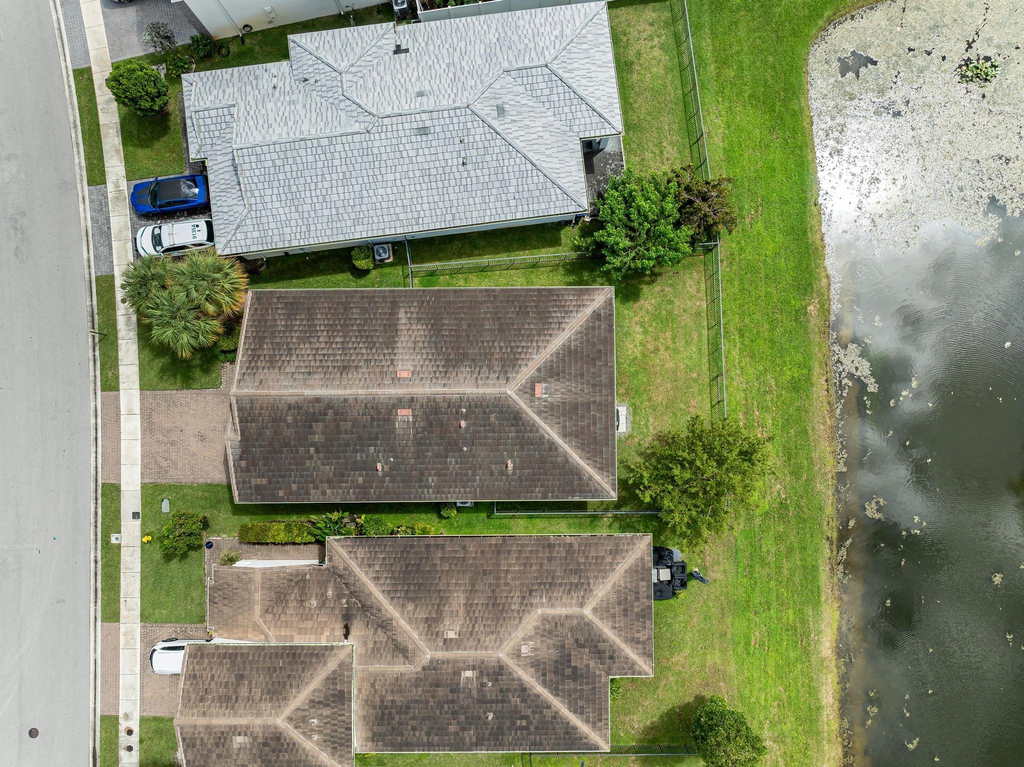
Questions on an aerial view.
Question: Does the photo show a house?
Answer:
Yes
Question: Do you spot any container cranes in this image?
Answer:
No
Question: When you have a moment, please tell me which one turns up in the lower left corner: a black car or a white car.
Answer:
white car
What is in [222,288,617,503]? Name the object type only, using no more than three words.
house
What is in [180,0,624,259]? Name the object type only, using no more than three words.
house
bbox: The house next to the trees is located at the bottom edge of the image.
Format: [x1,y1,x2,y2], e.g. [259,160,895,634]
[172,535,654,767]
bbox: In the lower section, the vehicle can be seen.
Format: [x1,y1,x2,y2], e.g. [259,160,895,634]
[150,637,206,676]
